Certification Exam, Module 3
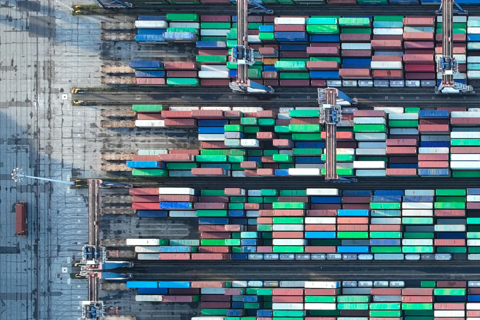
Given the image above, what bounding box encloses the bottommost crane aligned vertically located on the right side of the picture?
[314,86,361,184]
